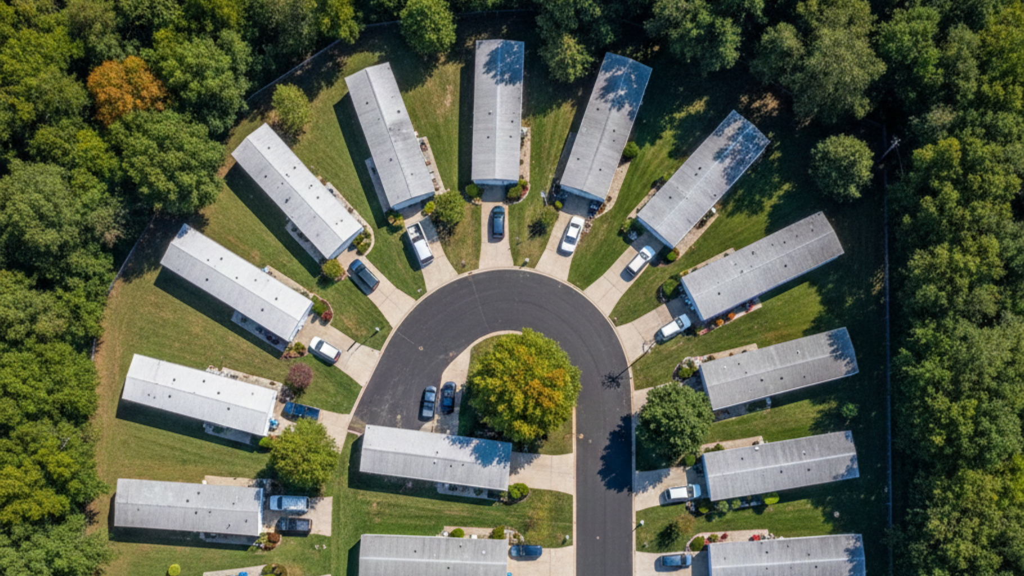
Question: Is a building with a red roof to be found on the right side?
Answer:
No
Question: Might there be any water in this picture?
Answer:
No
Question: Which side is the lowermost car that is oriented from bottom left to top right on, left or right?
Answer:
right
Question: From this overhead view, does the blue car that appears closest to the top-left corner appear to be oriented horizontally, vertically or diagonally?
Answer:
diagonally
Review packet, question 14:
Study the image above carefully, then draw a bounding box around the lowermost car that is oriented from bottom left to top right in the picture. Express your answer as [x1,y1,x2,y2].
[658,316,691,340]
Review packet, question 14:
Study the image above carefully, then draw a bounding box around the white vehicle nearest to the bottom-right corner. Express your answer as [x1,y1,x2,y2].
[666,486,700,500]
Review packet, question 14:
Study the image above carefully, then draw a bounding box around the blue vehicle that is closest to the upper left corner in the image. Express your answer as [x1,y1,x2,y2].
[352,260,381,291]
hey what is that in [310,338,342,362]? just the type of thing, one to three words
car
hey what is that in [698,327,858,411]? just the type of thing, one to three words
house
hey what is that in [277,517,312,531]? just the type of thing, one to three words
car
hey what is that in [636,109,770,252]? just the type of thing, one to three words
house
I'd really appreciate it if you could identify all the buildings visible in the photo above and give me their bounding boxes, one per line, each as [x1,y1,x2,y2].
[122,353,282,437]
[636,109,770,252]
[231,122,364,262]
[345,62,435,211]
[698,327,858,411]
[360,424,513,491]
[471,38,524,187]
[161,223,314,342]
[559,54,652,206]
[706,534,866,576]
[680,211,843,323]
[359,533,508,576]
[701,430,859,502]
[113,478,268,536]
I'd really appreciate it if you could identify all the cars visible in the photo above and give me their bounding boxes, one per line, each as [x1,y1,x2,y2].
[658,316,691,340]
[277,517,312,531]
[666,486,700,500]
[310,338,342,362]
[563,217,584,252]
[510,544,542,556]
[660,554,692,567]
[423,386,438,420]
[442,382,456,414]
[352,260,381,291]
[626,247,655,277]
[271,496,310,511]
[492,207,506,240]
